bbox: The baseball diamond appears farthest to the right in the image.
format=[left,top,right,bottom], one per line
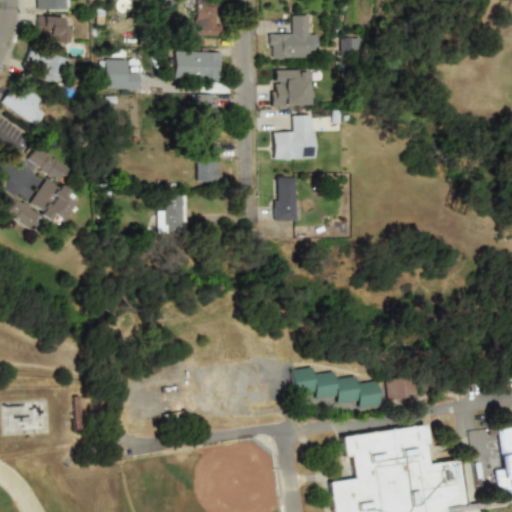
[129,440,280,512]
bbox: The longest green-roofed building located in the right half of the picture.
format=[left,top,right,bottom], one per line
[292,367,384,412]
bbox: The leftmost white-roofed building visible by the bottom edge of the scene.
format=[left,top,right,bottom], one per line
[331,426,469,512]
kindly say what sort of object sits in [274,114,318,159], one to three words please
house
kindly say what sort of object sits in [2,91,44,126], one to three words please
house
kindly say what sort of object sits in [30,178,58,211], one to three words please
building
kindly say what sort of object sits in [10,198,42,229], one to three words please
building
